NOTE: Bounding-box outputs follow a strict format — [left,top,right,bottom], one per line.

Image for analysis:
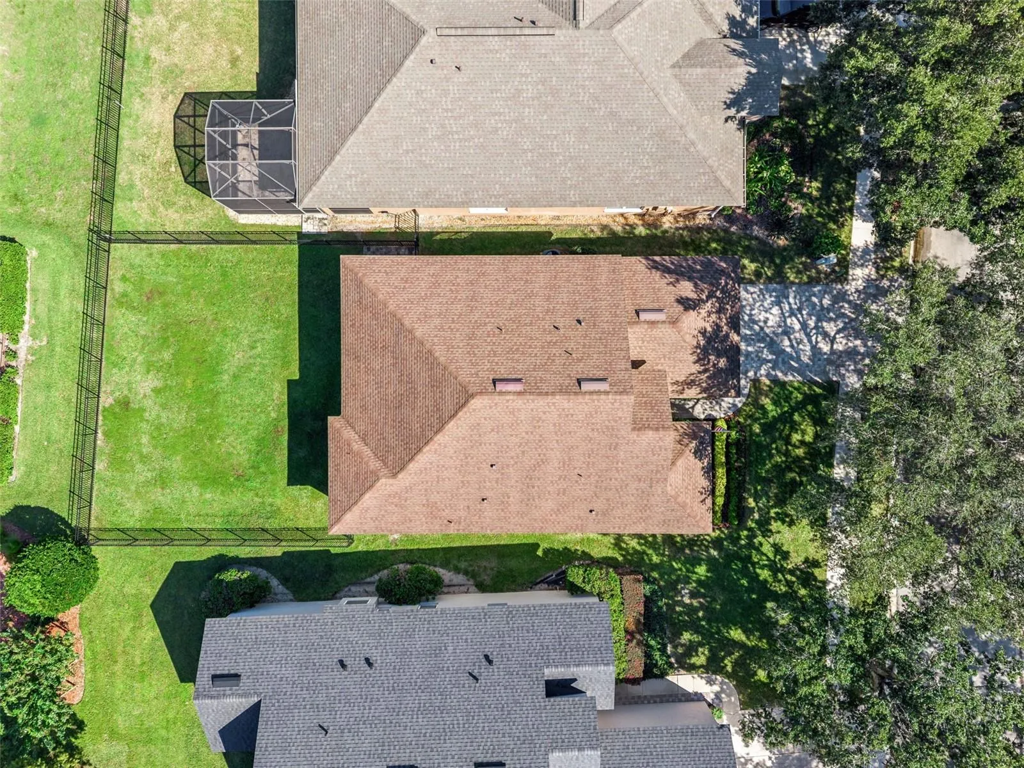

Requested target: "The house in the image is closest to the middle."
[328,256,740,534]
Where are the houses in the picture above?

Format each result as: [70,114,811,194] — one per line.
[195,587,737,768]
[294,0,791,223]
[328,256,740,534]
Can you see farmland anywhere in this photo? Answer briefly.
No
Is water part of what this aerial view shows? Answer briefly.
No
